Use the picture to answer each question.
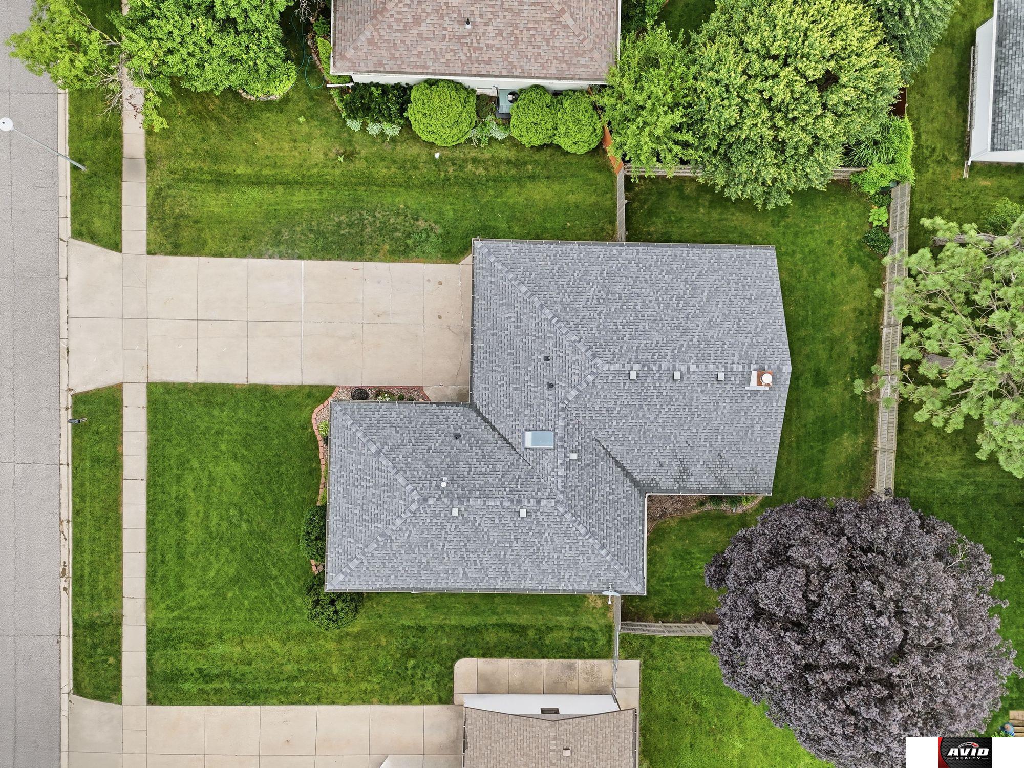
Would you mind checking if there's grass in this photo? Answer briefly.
Yes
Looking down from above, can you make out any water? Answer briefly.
No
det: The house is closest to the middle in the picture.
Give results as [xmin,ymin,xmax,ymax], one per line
[323,235,792,597]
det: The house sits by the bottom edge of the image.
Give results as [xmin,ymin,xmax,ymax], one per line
[461,694,637,768]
